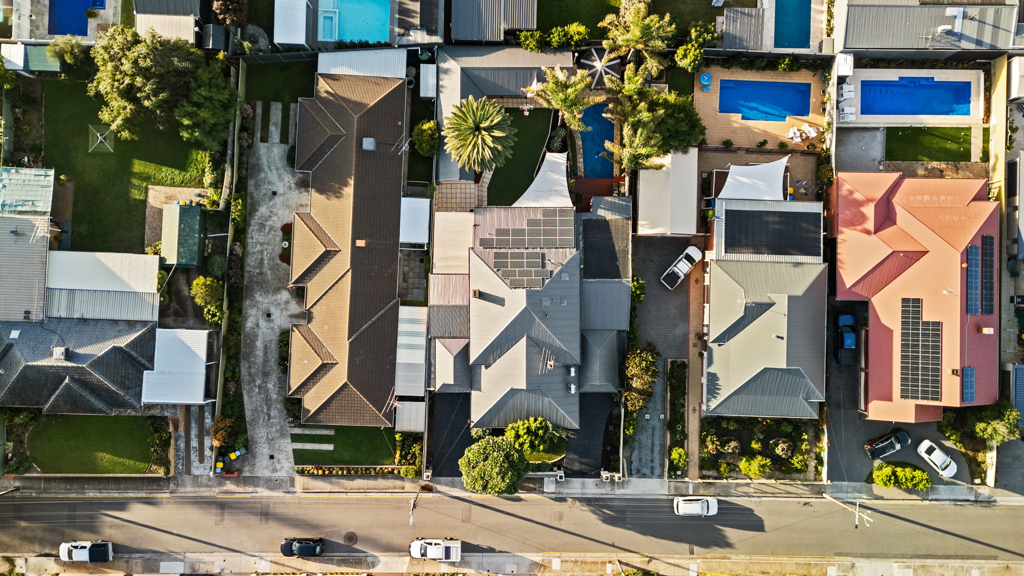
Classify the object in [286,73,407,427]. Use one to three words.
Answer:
house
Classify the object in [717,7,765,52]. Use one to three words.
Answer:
building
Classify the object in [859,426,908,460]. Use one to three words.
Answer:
car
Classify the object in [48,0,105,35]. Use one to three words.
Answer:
swimming pool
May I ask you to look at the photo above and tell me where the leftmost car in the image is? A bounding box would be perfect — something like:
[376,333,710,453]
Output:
[282,536,325,559]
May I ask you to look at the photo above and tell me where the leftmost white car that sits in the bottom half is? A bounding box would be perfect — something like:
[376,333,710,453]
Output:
[672,495,715,518]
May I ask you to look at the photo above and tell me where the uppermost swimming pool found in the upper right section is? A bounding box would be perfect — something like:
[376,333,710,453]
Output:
[771,0,814,52]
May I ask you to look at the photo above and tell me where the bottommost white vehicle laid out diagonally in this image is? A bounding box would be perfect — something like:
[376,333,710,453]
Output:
[915,437,957,479]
